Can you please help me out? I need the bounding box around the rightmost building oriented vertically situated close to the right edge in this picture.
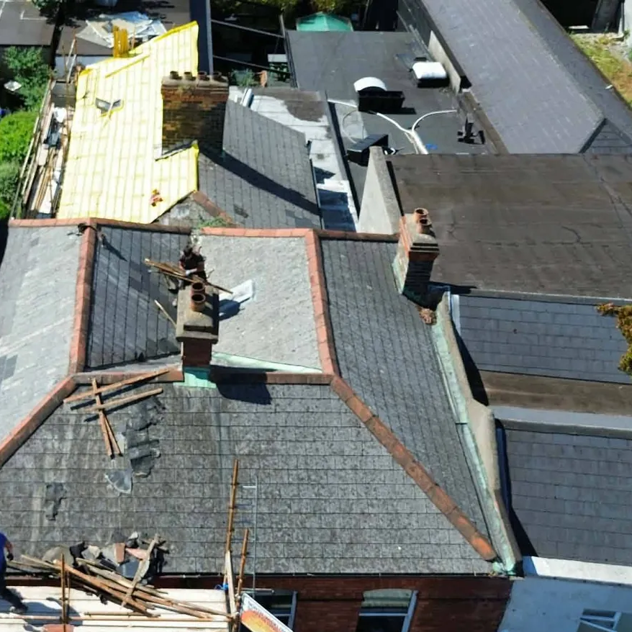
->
[389,154,632,632]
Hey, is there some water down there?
No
